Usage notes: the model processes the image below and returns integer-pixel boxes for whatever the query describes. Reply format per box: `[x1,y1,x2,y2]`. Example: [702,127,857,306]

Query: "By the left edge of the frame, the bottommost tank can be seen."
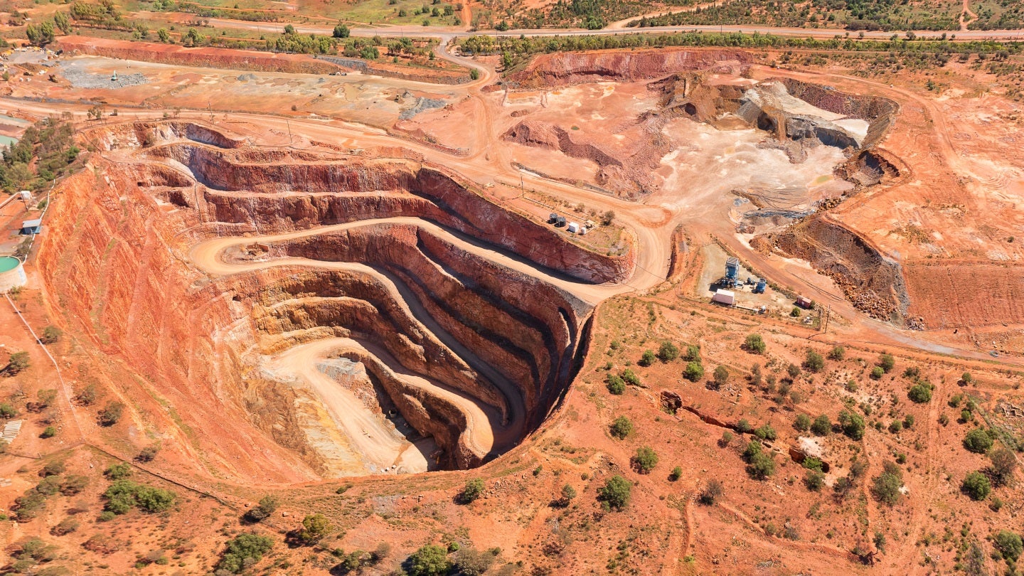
[0,256,27,293]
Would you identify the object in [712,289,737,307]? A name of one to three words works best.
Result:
shed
